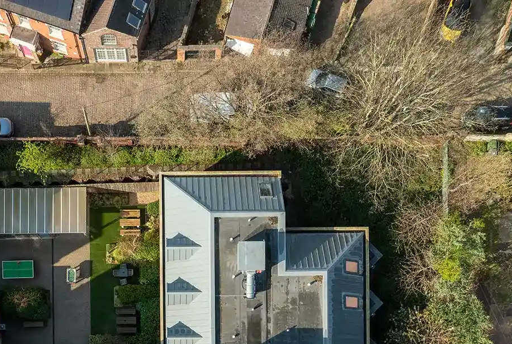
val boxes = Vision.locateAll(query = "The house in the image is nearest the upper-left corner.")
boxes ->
[0,0,92,63]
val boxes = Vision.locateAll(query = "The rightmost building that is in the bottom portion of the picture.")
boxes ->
[160,171,381,344]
